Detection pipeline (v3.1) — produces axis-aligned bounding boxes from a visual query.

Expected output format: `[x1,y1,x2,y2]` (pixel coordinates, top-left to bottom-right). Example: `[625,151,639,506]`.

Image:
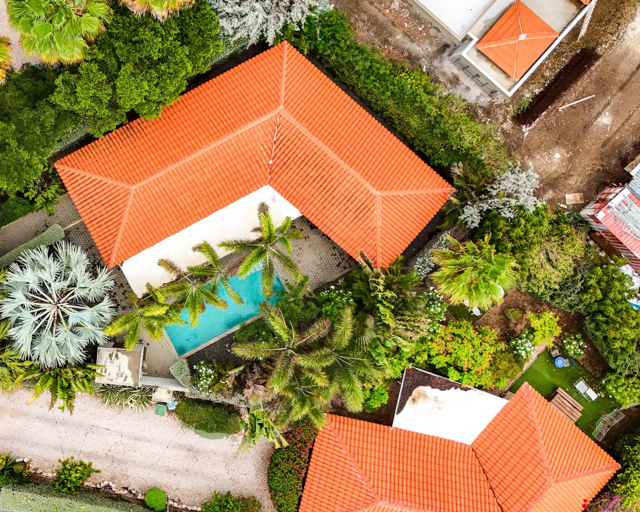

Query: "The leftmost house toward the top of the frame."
[53,39,454,296]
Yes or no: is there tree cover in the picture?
Yes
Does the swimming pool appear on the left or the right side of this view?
left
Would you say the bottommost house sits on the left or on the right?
right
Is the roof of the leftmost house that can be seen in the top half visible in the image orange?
Yes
